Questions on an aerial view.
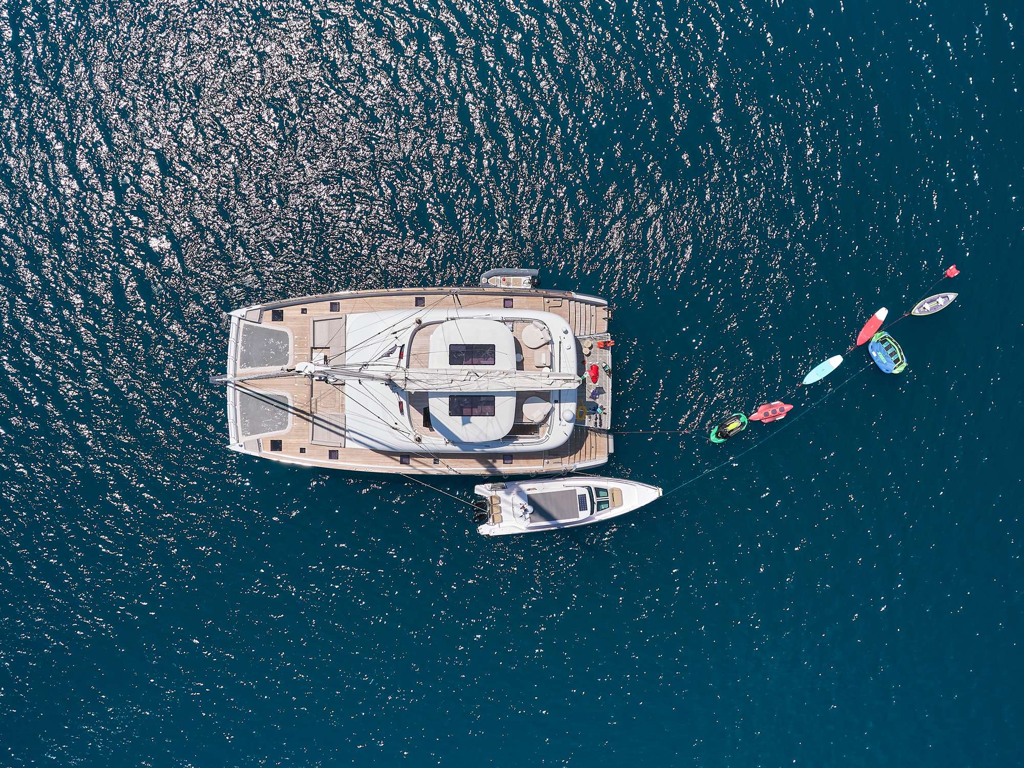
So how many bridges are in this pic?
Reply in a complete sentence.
There are no bridges in the image.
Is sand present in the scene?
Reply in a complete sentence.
No, sand can't be seen anywhere here.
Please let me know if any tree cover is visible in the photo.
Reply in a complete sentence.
No, there's no tree cover in this view.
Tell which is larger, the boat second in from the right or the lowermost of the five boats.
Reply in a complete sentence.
Of the two, the lowermost of the five boats is larger and the boat second in from the right is the smaller one.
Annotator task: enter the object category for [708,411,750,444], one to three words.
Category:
boat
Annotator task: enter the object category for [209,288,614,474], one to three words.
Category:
boat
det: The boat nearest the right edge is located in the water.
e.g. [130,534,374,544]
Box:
[911,293,957,315]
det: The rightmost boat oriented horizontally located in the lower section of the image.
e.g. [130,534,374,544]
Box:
[473,476,663,536]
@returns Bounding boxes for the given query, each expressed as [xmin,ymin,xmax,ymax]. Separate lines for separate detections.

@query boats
[473,476,663,536]
[911,293,957,315]
[480,268,540,289]
[708,411,750,444]
[209,288,614,474]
